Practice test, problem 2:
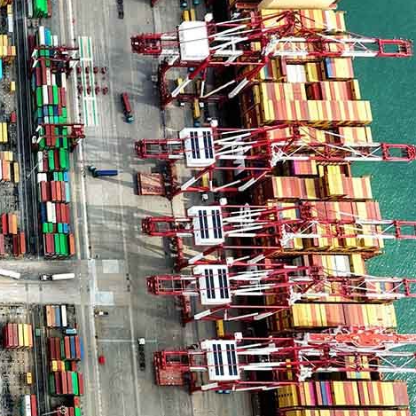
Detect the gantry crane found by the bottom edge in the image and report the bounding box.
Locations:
[148,329,416,398]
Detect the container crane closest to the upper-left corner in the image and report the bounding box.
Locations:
[21,48,80,84]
